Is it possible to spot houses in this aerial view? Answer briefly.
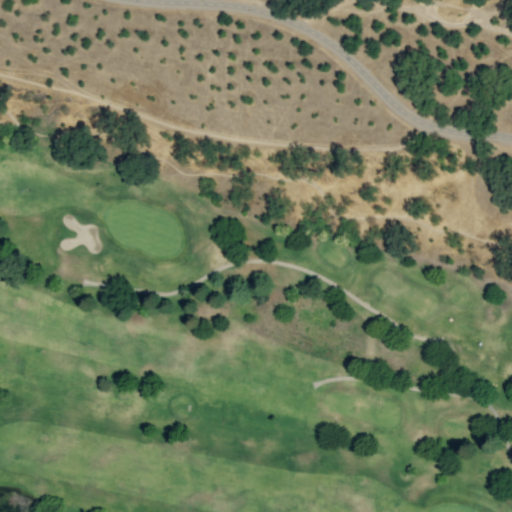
No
